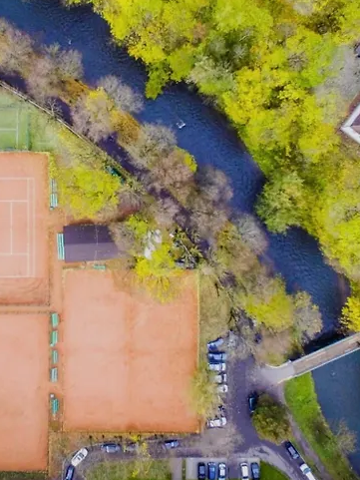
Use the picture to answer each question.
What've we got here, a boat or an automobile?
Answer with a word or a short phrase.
automobile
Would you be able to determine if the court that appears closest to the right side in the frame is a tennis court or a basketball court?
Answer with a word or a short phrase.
tennis court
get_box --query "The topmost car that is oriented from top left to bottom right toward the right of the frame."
[286,442,302,462]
